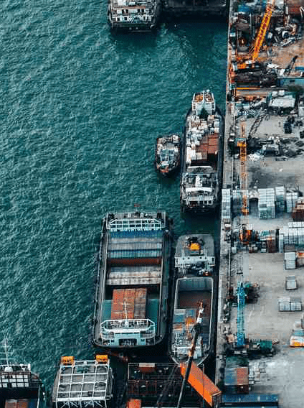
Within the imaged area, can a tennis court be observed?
No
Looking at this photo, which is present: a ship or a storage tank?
ship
